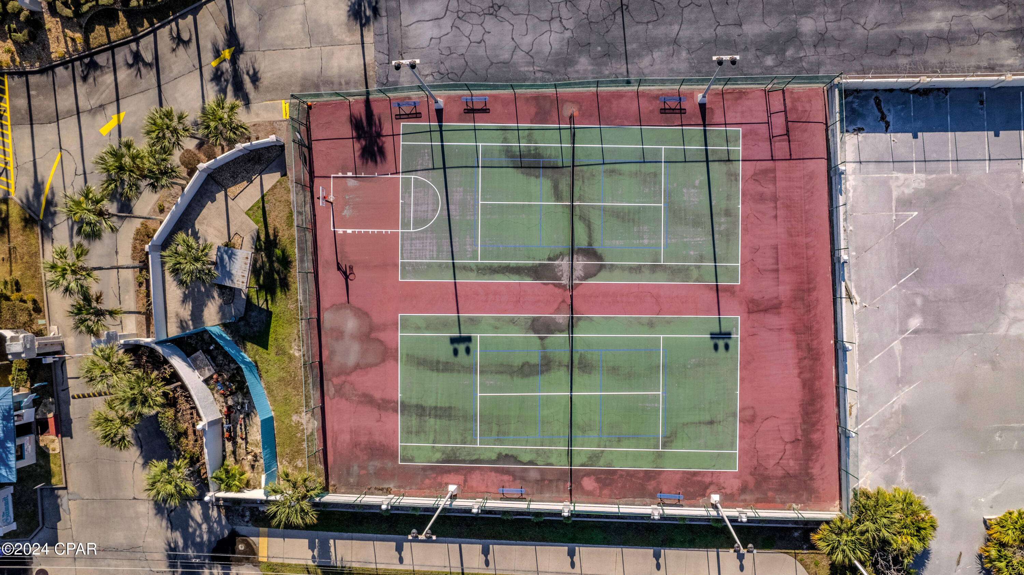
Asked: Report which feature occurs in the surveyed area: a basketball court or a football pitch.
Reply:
basketball court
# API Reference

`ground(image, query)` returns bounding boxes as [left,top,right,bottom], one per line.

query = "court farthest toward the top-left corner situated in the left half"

[331,172,441,233]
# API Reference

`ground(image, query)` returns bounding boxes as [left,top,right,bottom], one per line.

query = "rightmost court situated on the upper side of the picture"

[398,123,742,284]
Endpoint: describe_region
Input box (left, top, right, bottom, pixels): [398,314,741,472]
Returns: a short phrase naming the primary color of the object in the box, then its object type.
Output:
green tennis court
